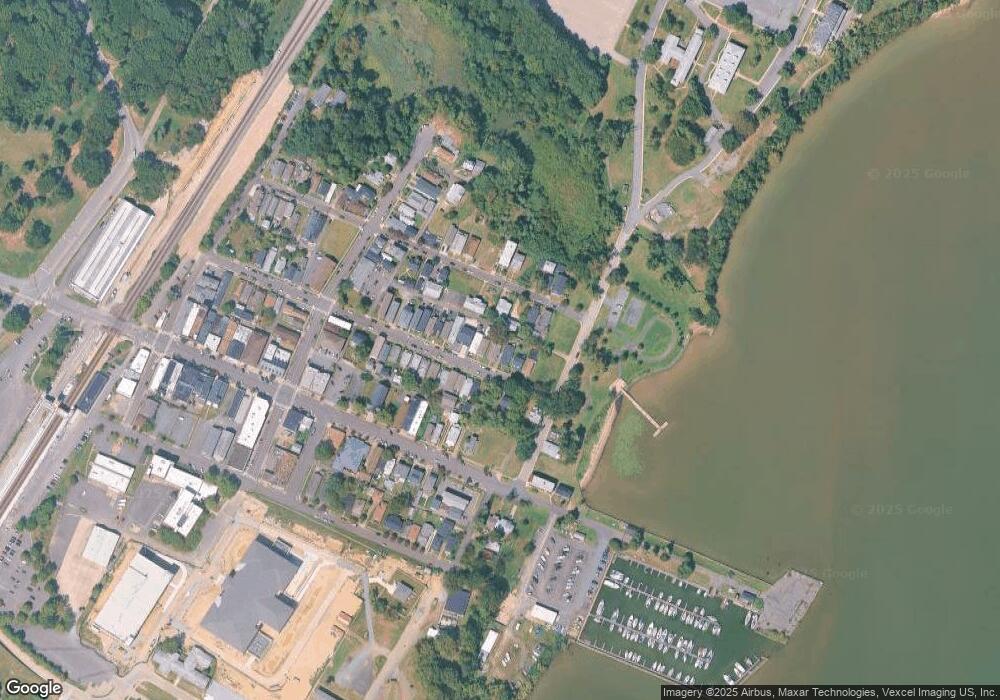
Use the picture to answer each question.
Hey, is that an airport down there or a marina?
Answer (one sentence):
The area seen from above is a marina.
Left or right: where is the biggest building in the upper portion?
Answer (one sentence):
You can find the biggest building in the upper portion on the left side of the picture.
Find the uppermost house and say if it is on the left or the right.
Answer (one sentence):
The uppermost house is on the right side of the image.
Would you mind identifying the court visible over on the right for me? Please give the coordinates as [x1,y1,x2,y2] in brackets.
[619,294,648,330]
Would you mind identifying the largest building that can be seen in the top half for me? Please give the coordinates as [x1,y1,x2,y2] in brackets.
[71,197,152,302]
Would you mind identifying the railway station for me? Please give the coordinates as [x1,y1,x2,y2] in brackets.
[0,373,107,523]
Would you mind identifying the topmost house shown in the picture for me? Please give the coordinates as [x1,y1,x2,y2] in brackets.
[812,4,848,52]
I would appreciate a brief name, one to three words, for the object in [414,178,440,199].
house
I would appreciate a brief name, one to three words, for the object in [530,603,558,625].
building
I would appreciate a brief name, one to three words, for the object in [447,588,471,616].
house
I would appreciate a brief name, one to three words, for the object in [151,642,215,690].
building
